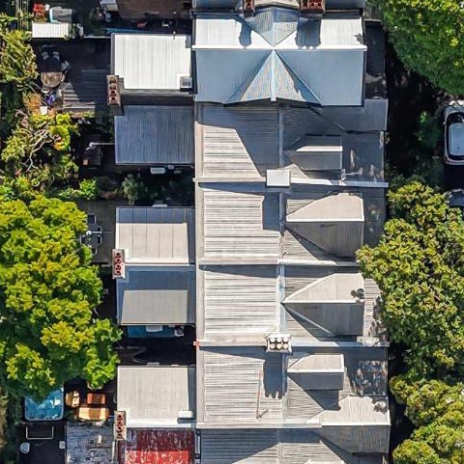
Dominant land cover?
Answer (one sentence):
Most of the picture is covered by buildings.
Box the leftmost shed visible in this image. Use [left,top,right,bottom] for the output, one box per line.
[32,21,70,42]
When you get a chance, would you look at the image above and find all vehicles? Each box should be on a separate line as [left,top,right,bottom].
[445,187,464,215]
[441,99,464,165]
